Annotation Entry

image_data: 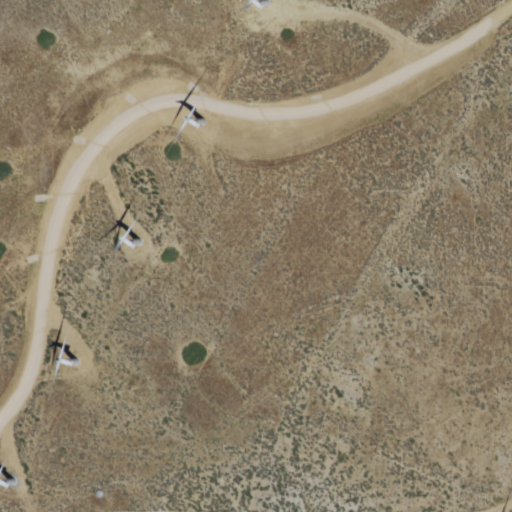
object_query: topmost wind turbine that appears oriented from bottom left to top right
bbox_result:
[173,87,208,144]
